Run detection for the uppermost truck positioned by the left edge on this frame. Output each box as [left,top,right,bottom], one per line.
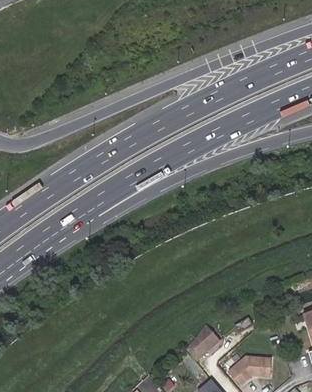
[10,179,47,208]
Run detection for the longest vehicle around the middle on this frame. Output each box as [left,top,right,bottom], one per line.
[132,168,170,194]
